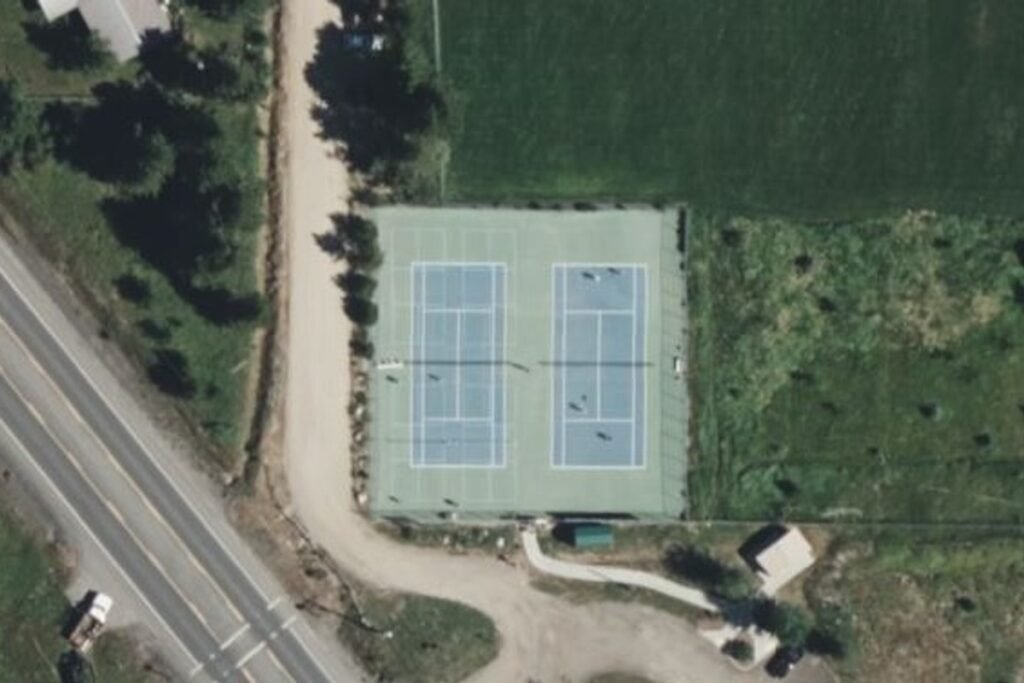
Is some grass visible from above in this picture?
Yes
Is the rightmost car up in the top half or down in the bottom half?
bottom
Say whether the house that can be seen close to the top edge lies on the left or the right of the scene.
left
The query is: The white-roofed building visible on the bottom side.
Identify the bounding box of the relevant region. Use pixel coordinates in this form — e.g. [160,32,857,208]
[755,529,817,591]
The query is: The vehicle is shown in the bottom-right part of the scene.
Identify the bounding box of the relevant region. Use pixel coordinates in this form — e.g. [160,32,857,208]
[765,642,806,677]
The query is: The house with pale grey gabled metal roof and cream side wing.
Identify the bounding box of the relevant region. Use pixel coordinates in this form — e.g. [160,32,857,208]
[39,0,170,67]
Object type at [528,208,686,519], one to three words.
tennis court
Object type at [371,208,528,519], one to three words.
tennis court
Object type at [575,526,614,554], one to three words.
shed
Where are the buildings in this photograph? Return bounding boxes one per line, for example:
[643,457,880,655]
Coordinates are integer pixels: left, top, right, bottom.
[575,526,614,554]
[755,529,817,591]
[39,0,170,67]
